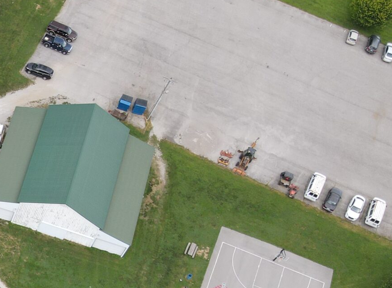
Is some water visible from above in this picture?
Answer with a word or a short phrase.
No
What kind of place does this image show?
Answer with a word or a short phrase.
parking lot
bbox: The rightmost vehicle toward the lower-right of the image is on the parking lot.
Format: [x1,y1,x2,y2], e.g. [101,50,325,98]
[363,198,386,227]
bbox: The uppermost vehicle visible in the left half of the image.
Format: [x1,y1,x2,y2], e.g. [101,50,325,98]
[46,20,78,41]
